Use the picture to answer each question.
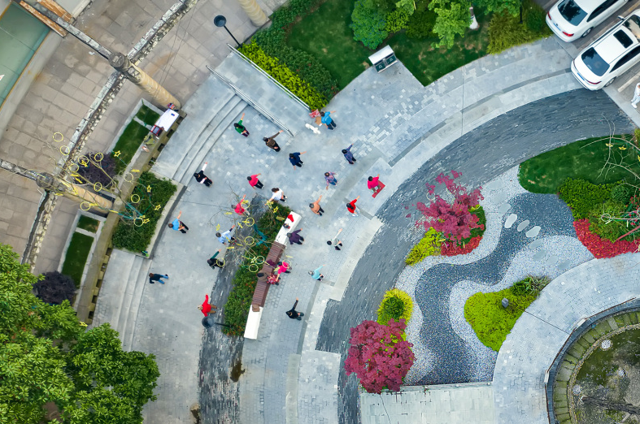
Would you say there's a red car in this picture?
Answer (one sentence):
No, I can't see a single red car in this photo.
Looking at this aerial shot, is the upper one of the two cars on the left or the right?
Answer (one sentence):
You can find the upper one of the two cars on the right side of the picture.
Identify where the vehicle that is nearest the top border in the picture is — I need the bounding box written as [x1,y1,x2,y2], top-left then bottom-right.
[549,0,629,42]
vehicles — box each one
[549,0,629,42]
[576,5,640,90]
